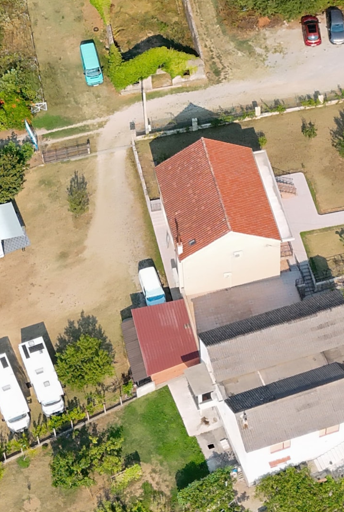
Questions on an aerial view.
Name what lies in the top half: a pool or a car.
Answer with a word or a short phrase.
car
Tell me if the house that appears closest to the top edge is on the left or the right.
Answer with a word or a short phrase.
right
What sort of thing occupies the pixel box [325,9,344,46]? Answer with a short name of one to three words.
car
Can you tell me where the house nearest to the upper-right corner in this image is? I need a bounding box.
[155,139,294,289]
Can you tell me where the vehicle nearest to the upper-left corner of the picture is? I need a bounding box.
[79,41,105,86]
